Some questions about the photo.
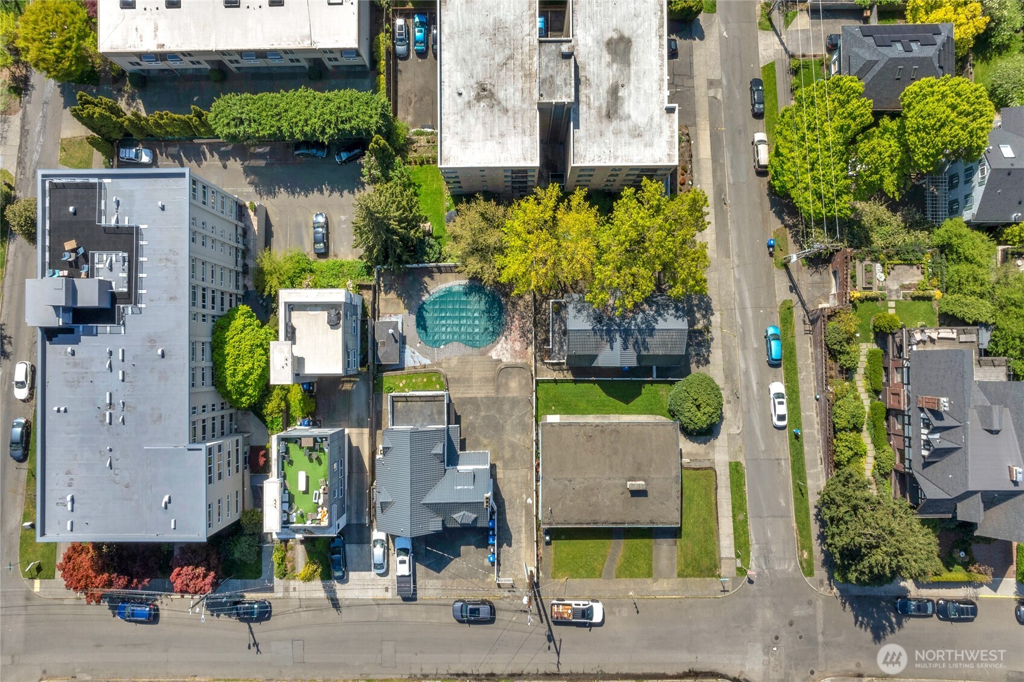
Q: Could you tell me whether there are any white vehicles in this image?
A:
Yes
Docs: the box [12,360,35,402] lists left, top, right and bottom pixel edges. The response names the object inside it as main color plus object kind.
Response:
white car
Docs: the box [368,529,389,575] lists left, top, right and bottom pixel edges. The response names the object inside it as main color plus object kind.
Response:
white car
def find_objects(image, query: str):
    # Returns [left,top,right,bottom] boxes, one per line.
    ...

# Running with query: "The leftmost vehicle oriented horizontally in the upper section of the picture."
[114,144,160,166]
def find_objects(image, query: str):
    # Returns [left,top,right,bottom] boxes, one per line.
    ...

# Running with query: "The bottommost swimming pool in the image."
[402,275,513,365]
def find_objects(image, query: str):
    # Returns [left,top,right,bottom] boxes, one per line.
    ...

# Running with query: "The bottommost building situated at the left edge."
[25,167,258,542]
